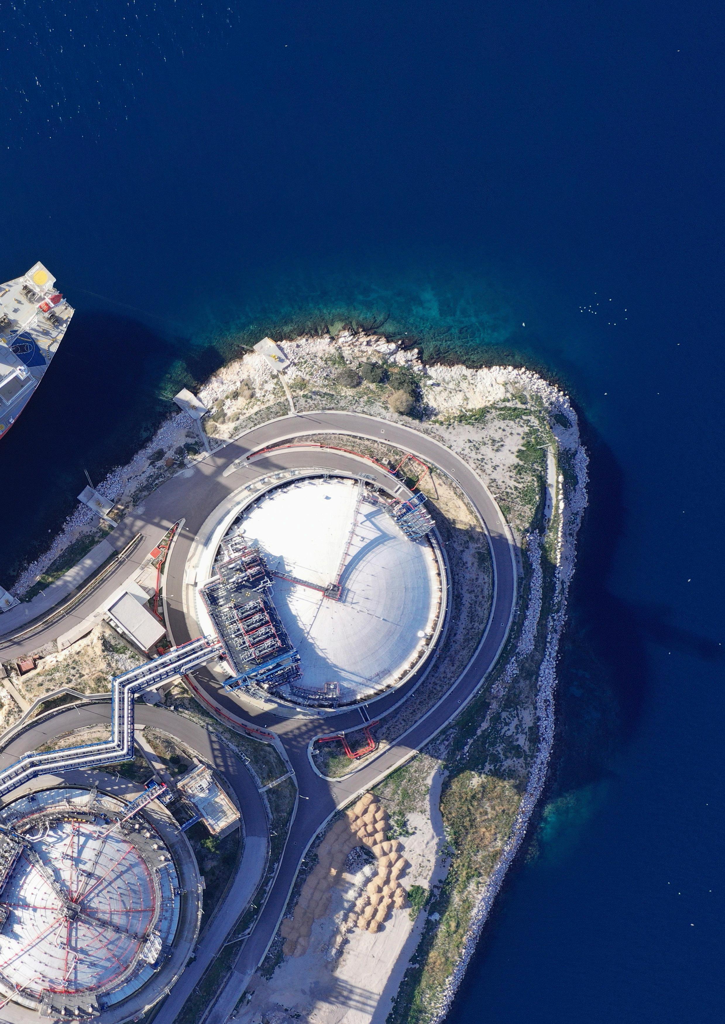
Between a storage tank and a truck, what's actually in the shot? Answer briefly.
storage tank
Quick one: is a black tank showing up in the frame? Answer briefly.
No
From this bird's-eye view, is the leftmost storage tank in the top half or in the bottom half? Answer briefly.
bottom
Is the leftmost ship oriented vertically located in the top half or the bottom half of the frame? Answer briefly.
top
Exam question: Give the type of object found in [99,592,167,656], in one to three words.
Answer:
building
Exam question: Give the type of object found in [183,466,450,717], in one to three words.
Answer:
storage tank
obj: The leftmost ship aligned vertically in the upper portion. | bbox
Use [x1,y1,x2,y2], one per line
[0,261,75,436]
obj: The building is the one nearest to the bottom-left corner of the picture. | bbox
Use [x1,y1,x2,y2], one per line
[167,758,242,839]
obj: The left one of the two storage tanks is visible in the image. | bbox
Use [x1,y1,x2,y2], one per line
[0,774,194,1024]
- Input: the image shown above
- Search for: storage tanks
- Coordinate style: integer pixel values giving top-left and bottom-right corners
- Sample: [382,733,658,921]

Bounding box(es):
[183,466,450,717]
[0,774,194,1024]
